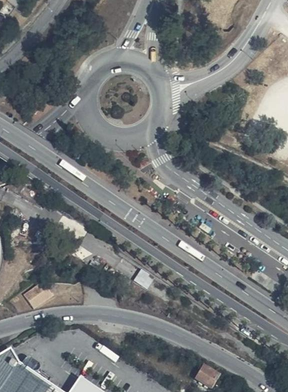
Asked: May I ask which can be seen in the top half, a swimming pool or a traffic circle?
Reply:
traffic circle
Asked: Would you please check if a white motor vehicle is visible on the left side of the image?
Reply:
Yes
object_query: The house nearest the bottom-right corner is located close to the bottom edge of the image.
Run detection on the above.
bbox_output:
[194,363,220,387]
